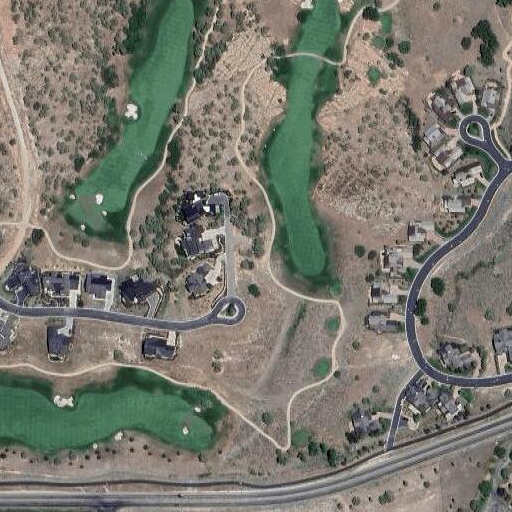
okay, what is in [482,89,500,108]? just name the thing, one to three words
house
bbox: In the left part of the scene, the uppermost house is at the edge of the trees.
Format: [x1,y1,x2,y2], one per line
[181,190,215,225]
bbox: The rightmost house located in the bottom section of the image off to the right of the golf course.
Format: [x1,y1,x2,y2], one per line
[492,329,512,363]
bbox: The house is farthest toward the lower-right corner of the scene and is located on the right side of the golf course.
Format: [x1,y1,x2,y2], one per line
[438,391,463,420]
